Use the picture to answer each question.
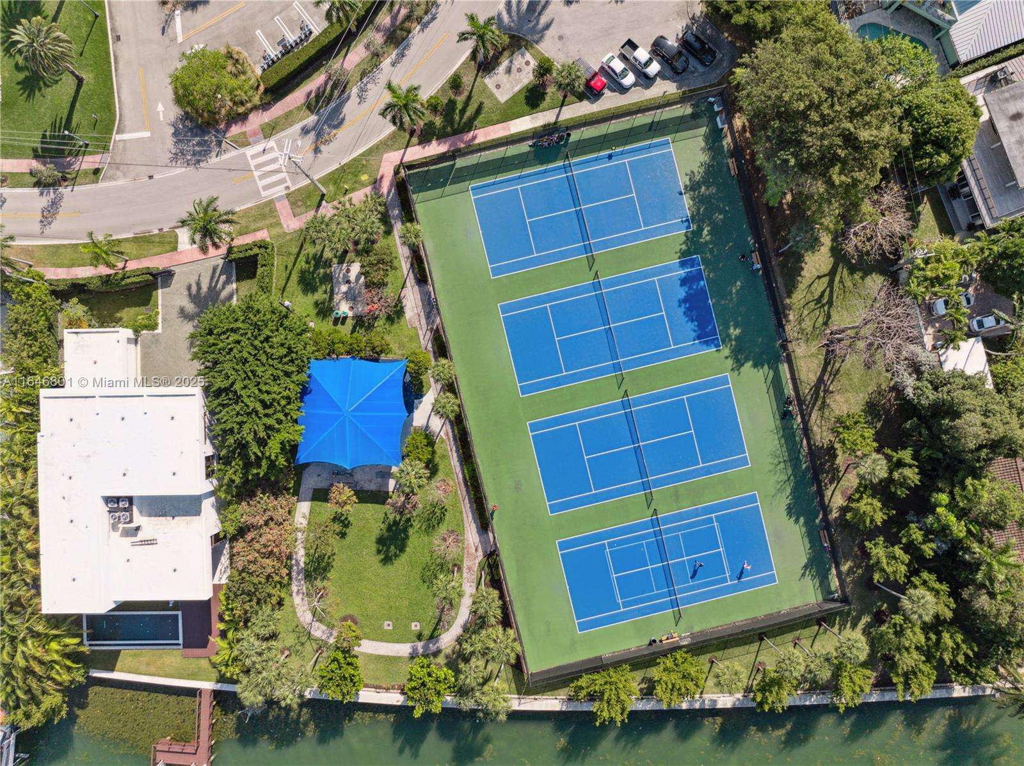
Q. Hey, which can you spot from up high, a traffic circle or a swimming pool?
swimming pool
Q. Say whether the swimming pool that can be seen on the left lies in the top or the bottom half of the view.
bottom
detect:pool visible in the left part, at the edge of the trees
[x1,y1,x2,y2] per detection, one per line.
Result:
[81,611,183,650]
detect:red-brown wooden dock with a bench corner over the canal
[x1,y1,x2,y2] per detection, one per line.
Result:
[148,690,218,766]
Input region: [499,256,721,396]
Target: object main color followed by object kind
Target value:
blue tennis court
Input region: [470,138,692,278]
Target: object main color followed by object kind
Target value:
blue tennis court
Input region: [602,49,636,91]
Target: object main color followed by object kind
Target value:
white car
